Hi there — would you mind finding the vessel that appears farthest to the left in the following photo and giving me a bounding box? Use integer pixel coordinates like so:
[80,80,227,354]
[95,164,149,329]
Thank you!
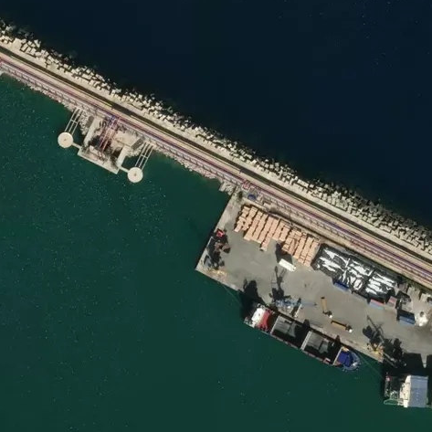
[245,303,360,368]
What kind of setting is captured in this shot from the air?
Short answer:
port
